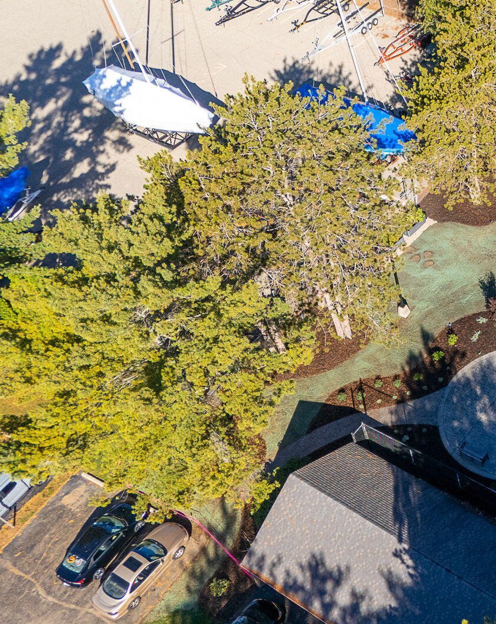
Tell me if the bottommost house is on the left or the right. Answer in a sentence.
It is on the right.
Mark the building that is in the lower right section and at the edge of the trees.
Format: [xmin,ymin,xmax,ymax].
[242,434,496,624]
